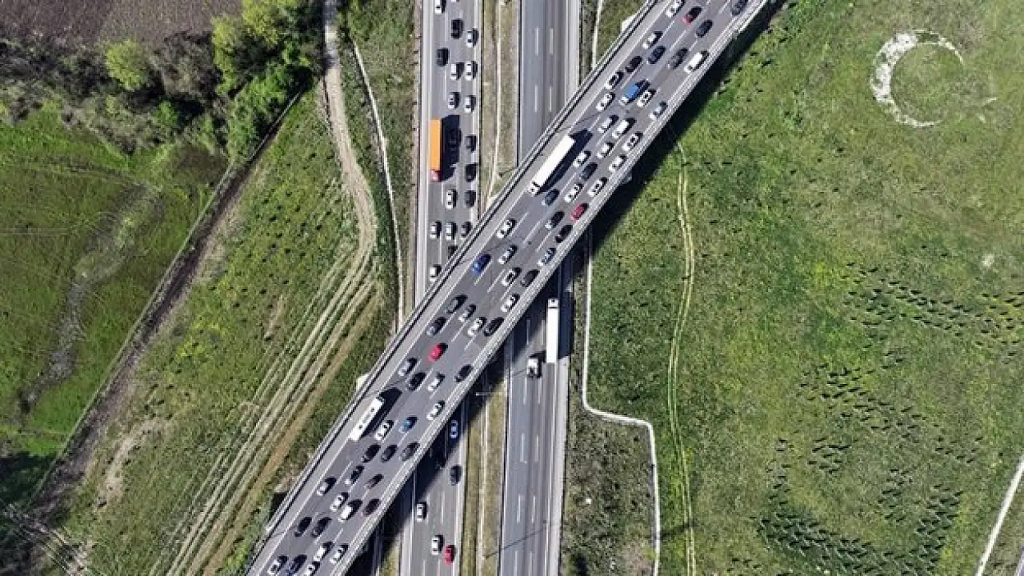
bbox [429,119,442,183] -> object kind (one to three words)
vehicle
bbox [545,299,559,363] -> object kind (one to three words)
vehicle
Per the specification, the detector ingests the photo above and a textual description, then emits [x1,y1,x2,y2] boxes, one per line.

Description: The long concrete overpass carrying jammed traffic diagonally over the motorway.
[236,0,764,576]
